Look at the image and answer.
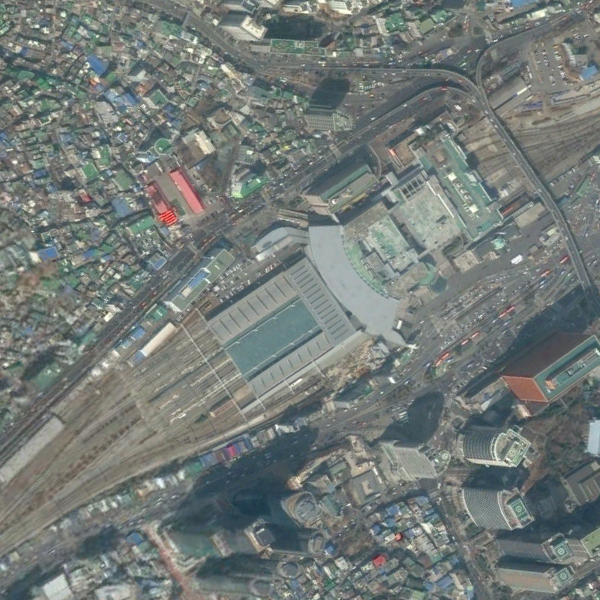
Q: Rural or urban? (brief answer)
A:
urban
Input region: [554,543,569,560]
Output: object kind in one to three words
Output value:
helipad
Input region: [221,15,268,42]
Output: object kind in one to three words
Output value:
building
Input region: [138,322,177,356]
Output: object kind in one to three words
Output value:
shed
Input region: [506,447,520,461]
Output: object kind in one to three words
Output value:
helipad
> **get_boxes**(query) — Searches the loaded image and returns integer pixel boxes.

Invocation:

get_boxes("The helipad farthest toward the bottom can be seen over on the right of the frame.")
[555,568,571,585]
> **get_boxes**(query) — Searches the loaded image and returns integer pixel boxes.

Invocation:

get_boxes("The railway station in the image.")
[202,225,405,405]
